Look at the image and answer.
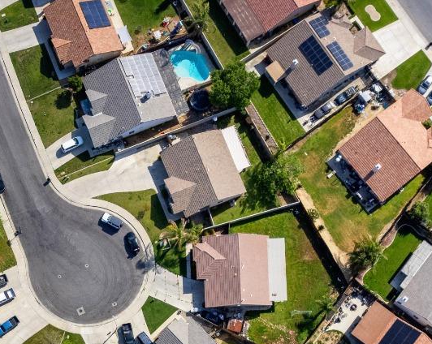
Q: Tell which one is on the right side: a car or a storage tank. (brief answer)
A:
car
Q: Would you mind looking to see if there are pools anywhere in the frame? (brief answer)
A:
Yes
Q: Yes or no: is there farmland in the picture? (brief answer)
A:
No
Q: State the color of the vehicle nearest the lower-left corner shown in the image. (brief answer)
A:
blue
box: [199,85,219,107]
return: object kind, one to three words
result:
trampoline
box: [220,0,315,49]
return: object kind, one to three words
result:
house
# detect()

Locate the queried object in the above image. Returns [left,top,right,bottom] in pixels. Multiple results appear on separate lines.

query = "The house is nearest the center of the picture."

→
[161,124,248,215]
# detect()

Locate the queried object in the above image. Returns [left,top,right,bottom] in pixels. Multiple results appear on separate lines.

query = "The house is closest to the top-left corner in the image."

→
[40,0,132,70]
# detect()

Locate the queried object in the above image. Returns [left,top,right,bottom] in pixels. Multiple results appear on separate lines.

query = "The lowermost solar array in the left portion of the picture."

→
[121,55,162,95]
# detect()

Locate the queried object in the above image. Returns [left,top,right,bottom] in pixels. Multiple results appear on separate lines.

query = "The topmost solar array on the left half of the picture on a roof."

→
[79,0,111,27]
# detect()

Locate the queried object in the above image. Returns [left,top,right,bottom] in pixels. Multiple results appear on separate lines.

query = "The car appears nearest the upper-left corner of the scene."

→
[58,136,84,151]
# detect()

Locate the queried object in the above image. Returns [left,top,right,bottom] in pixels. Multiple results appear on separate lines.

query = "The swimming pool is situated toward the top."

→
[169,48,211,81]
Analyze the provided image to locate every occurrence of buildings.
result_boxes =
[161,124,248,215]
[263,1,386,106]
[157,314,214,344]
[82,51,175,146]
[220,0,315,49]
[193,232,287,308]
[339,87,432,202]
[387,240,432,327]
[40,0,132,70]
[349,302,432,344]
